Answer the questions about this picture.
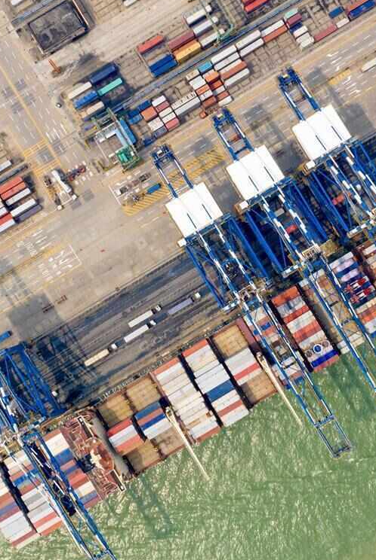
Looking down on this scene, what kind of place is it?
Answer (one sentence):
What you see here is a port.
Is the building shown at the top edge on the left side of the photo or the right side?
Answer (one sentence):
The building shown at the top edge is on the left side of the image.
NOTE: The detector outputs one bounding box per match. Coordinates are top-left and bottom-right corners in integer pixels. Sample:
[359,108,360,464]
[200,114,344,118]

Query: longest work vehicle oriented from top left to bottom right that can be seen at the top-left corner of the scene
[46,52,63,74]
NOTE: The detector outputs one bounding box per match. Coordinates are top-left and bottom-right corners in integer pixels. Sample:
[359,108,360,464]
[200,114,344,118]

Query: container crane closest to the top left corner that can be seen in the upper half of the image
[98,103,149,166]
